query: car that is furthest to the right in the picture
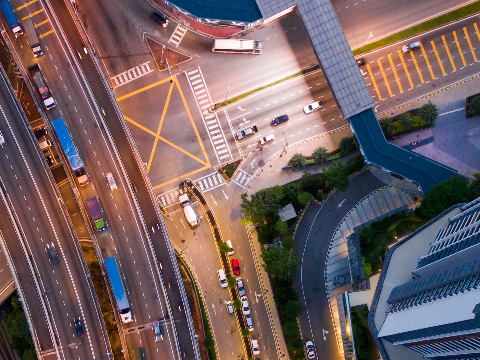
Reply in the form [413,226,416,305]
[402,39,423,53]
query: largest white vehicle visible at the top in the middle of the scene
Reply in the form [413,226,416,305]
[212,39,262,56]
